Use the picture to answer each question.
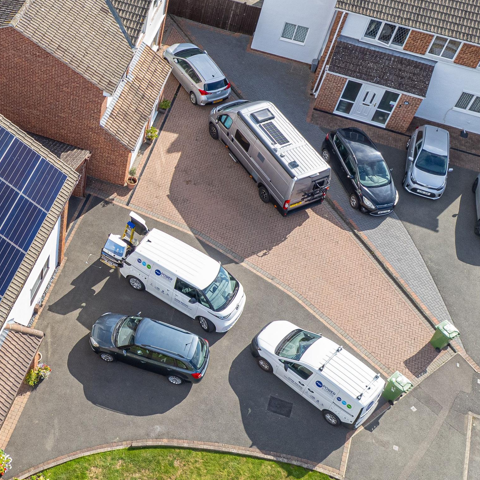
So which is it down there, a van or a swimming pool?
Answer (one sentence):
It is a van that can be seen here.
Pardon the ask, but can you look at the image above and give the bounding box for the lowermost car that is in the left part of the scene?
[88,309,209,385]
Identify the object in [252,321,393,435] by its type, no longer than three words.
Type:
van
